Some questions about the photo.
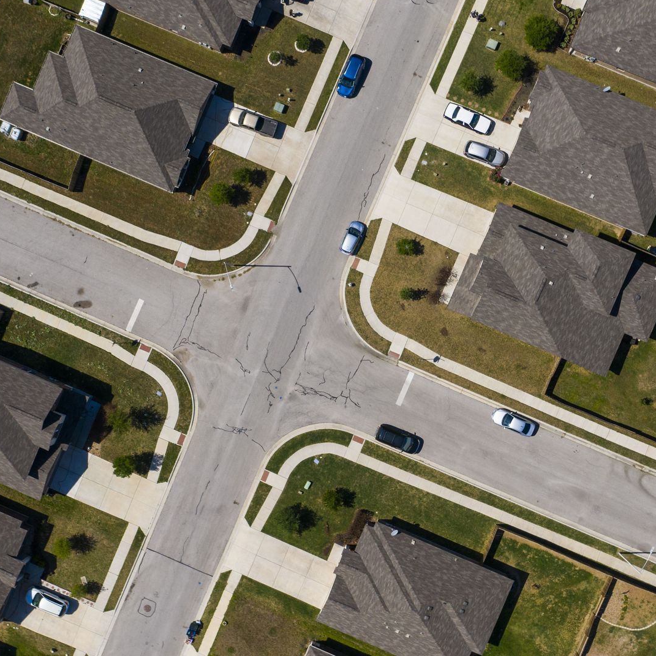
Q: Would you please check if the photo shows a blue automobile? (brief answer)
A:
Yes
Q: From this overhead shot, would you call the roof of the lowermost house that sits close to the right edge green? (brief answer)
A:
No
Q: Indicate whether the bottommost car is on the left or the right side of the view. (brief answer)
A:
left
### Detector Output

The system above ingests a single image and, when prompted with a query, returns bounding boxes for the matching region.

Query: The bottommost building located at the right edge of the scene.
[447,203,656,376]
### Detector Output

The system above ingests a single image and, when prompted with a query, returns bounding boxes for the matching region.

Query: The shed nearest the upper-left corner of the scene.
[75,0,106,25]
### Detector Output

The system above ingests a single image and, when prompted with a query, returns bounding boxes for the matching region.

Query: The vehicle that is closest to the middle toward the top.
[338,219,366,257]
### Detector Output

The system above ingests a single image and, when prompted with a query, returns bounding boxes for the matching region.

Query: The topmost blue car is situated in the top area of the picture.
[334,52,368,99]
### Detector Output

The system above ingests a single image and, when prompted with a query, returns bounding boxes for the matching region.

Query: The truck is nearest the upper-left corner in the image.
[225,110,280,146]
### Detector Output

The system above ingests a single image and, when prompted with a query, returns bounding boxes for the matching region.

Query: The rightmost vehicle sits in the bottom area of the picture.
[489,408,538,439]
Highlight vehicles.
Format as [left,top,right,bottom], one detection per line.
[442,102,494,137]
[334,52,368,99]
[489,408,538,439]
[464,138,508,169]
[375,422,424,455]
[225,110,280,146]
[338,219,366,257]
[24,588,69,620]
